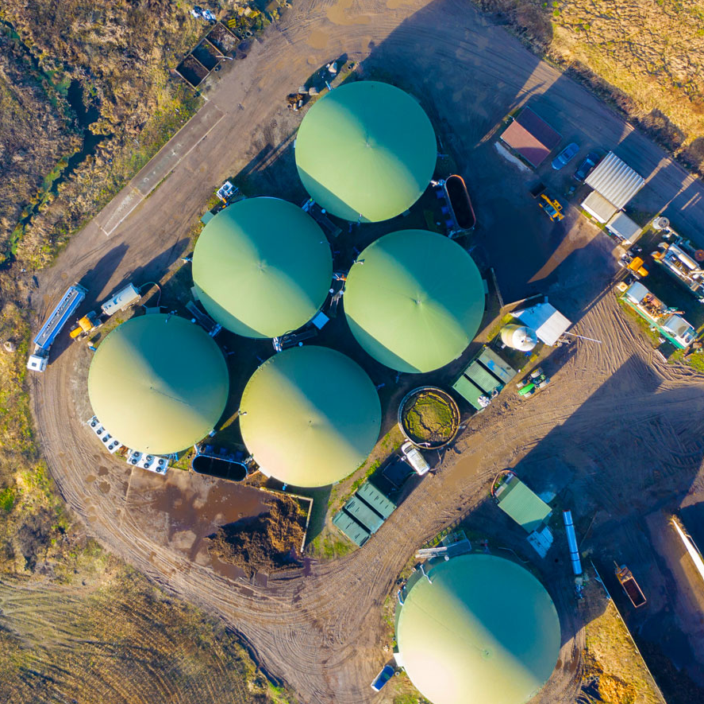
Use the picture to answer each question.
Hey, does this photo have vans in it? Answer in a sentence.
Yes, a van appears in the view.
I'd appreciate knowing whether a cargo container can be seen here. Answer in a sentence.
Yes, the photo shows a cargo container.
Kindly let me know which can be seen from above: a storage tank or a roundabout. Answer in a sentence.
I can see a storage tank in this picture.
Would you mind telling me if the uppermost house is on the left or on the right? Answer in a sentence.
The uppermost house sits on the right side.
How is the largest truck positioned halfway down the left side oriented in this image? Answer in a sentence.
What the image shows is the largest truck positioned halfway down the left side lying diagonally.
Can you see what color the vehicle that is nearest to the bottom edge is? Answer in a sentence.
The vehicle that is nearest to the bottom edge is blue.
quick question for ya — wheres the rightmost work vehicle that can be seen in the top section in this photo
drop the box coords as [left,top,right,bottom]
[621,251,653,284]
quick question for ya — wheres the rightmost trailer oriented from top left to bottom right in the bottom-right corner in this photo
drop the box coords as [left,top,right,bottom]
[614,560,650,610]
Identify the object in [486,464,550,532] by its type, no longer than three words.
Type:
shed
